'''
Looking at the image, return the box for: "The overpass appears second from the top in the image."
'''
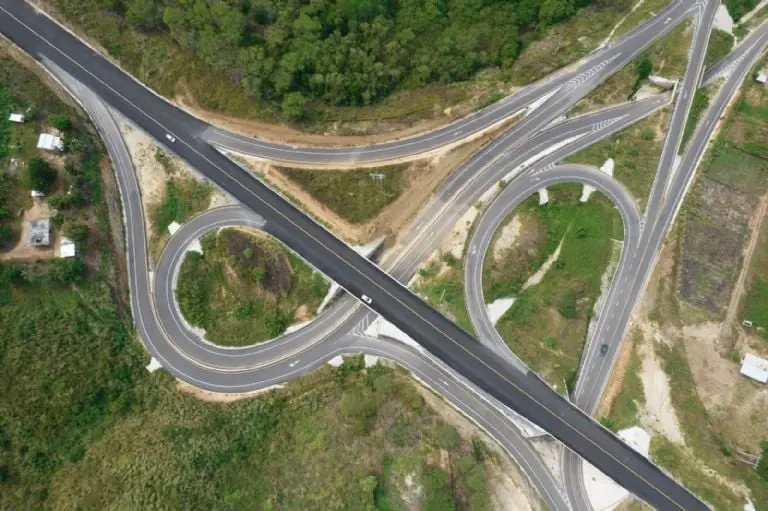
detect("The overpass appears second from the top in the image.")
[328,246,428,334]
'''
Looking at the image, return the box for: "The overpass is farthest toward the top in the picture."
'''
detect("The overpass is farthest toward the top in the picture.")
[672,64,706,101]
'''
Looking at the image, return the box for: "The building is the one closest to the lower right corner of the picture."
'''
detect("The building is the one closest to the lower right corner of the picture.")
[735,351,768,385]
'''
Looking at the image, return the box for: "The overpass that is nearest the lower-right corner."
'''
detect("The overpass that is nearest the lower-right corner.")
[533,393,623,470]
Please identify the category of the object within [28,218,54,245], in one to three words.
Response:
house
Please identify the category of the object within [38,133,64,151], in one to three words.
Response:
house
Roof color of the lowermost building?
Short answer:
white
